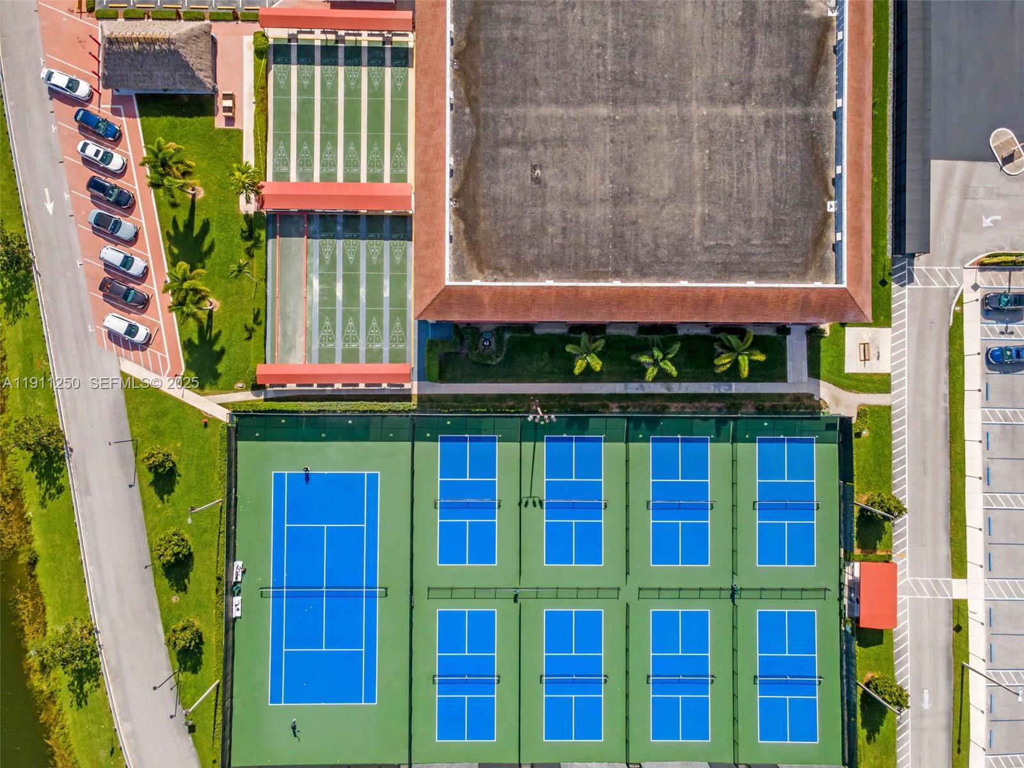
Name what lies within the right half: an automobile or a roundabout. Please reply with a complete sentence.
What appears within the right half is an automobile.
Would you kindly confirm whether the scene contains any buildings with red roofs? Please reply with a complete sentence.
Yes, there's a building with a red roof here.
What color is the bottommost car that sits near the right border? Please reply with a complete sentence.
From above, the bottommost car that sits near the right border appears blue.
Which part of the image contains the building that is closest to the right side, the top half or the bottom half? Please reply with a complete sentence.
The building that is closest to the right side sits in the bottom half of the picture.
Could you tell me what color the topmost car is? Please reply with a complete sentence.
The topmost car looks white in the image.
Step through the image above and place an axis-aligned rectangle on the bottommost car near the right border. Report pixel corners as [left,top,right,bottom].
[984,343,1024,366]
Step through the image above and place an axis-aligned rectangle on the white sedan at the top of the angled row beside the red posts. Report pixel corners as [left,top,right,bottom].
[39,67,95,102]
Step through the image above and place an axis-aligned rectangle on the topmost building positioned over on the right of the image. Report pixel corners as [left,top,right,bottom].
[413,0,875,324]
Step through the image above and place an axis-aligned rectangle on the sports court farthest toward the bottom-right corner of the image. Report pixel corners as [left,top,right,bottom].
[757,610,819,743]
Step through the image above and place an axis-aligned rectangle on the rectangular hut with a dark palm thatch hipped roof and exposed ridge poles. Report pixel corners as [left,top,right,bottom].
[102,21,221,96]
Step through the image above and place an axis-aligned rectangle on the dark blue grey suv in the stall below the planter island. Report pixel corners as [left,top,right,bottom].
[980,290,1024,313]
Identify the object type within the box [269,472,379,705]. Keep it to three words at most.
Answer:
tennis court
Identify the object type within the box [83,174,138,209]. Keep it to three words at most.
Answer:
car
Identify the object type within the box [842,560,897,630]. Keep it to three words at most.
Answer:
building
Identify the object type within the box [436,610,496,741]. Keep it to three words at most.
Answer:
sports court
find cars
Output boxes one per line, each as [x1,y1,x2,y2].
[96,244,151,278]
[39,67,95,102]
[85,208,141,243]
[75,140,129,175]
[984,343,1024,366]
[72,106,124,141]
[96,275,152,310]
[83,174,138,209]
[99,311,154,346]
[980,290,1024,313]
